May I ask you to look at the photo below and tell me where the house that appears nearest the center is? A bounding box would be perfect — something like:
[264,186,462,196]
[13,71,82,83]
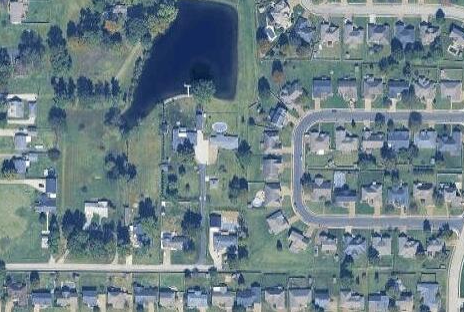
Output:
[210,135,238,149]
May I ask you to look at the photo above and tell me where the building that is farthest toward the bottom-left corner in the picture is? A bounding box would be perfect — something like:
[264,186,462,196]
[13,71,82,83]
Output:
[8,281,28,305]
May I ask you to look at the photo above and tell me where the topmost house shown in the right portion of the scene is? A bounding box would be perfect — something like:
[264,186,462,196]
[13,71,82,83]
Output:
[267,0,296,26]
